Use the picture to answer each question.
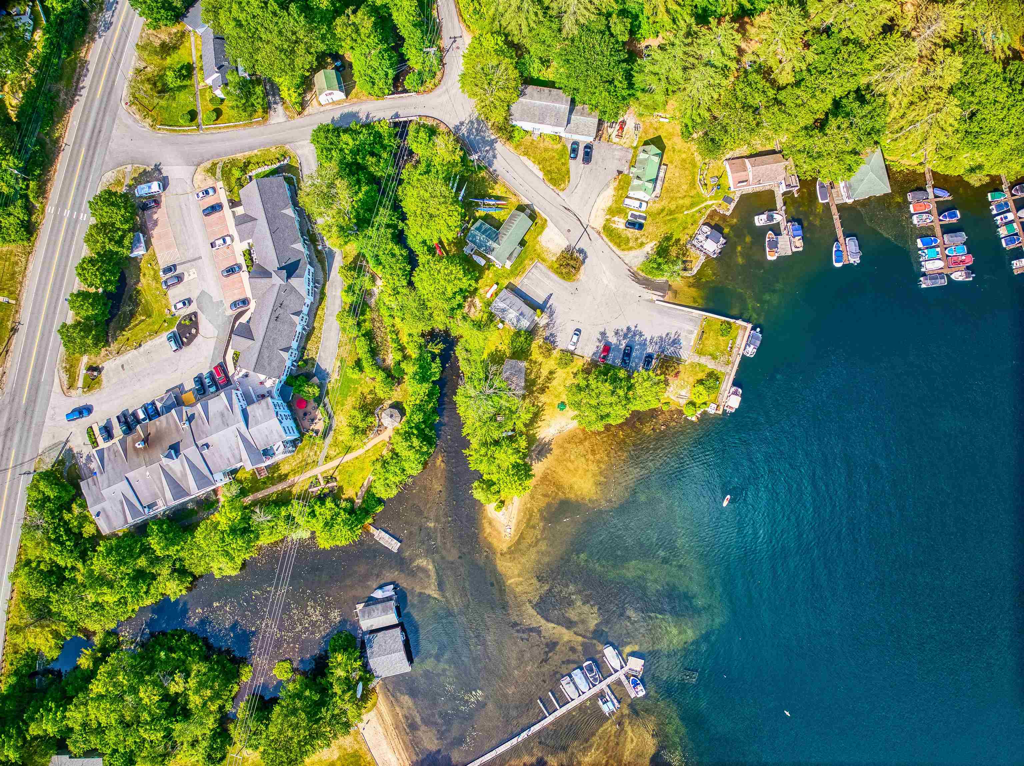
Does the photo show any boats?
Yes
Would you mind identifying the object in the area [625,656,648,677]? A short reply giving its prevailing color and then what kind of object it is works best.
white boat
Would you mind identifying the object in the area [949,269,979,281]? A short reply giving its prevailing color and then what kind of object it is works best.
white boat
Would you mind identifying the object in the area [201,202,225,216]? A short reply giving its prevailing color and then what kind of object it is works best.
blue car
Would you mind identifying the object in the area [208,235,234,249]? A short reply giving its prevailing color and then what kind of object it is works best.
white vehicle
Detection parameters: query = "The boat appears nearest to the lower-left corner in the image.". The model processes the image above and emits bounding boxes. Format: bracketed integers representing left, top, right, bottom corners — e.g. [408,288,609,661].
[372,583,400,598]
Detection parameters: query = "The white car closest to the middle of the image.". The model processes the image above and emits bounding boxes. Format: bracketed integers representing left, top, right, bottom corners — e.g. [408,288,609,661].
[568,328,581,350]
